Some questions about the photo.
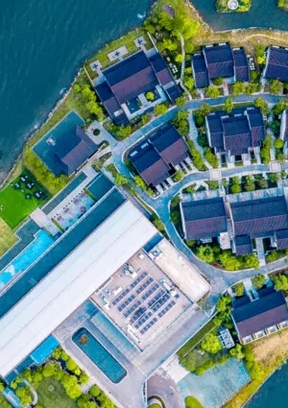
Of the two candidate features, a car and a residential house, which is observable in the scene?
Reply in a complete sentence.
I can see a residential house in this picture.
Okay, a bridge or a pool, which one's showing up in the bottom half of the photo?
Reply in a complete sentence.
The feature located in the bottom half of the photo is a pool.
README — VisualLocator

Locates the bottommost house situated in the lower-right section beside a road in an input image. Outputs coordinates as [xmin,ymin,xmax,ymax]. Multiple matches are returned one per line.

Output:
[230,277,288,347]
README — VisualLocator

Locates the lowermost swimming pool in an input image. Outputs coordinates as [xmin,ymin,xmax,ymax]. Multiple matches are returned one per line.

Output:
[3,388,22,408]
